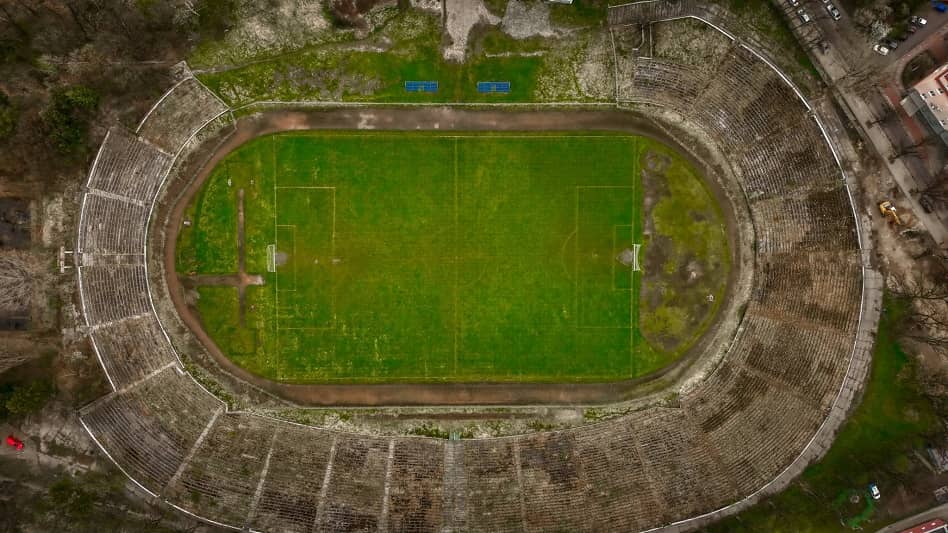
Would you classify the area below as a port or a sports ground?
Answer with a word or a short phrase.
sports ground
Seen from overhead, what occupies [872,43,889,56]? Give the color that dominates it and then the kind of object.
white vehicle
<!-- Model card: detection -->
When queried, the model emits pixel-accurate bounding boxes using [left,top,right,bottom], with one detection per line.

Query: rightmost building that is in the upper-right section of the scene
[900,60,948,153]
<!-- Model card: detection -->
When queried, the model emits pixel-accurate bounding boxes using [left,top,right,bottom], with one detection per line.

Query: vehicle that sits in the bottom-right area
[867,483,879,498]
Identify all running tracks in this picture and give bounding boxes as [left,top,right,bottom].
[165,107,742,406]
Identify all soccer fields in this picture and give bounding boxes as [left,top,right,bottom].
[274,136,635,378]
